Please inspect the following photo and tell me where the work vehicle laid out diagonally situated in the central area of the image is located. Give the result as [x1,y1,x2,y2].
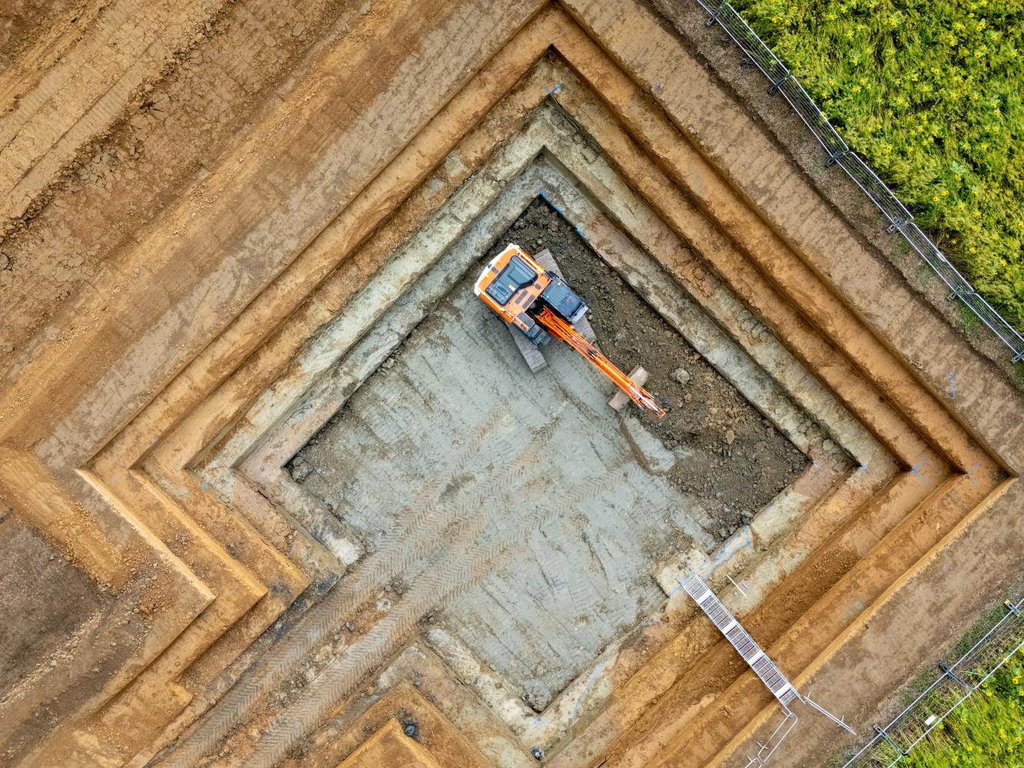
[475,246,669,422]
